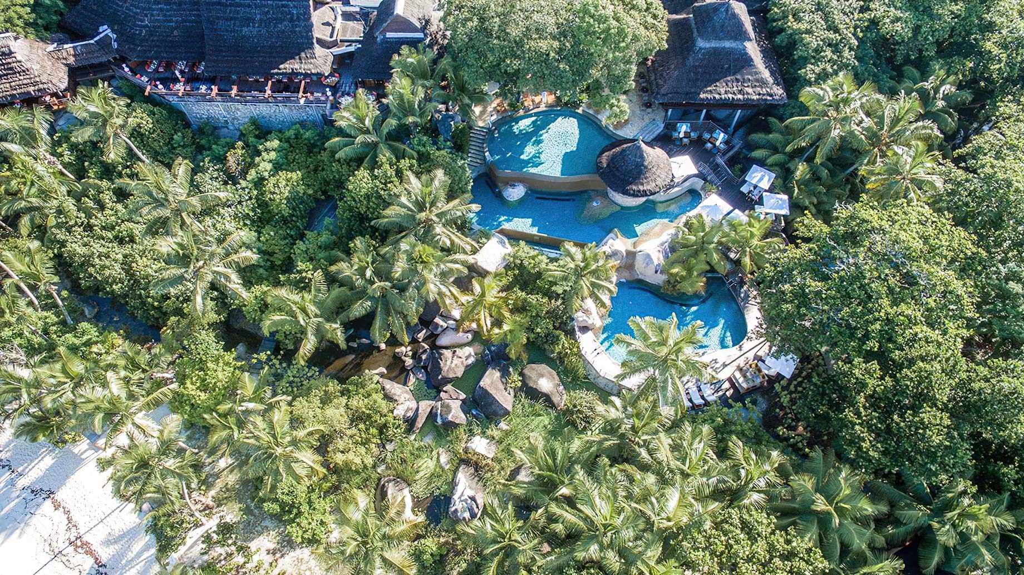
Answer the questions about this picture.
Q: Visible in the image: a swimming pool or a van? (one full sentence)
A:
I can see a swimming pool in this picture.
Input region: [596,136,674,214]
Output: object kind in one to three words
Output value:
shed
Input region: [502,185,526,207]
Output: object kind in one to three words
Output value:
fountain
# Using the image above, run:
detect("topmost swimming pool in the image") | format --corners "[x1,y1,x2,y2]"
[483,103,622,194]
